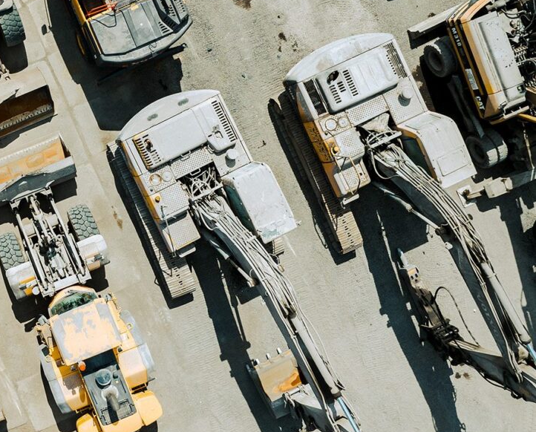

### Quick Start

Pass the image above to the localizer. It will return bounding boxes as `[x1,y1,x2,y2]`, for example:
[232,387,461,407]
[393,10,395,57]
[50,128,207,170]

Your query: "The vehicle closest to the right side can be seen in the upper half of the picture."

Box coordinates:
[403,0,536,206]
